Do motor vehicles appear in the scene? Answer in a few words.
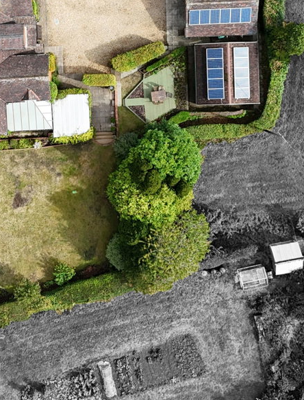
No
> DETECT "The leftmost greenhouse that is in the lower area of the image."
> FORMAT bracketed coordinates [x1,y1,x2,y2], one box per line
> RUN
[234,263,269,290]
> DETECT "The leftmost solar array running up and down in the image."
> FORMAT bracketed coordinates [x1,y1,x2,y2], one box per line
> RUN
[206,47,225,100]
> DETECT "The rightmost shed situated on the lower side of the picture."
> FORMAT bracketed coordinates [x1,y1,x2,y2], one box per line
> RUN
[268,240,303,273]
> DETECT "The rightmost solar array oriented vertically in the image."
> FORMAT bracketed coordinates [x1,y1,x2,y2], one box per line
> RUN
[233,46,250,100]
